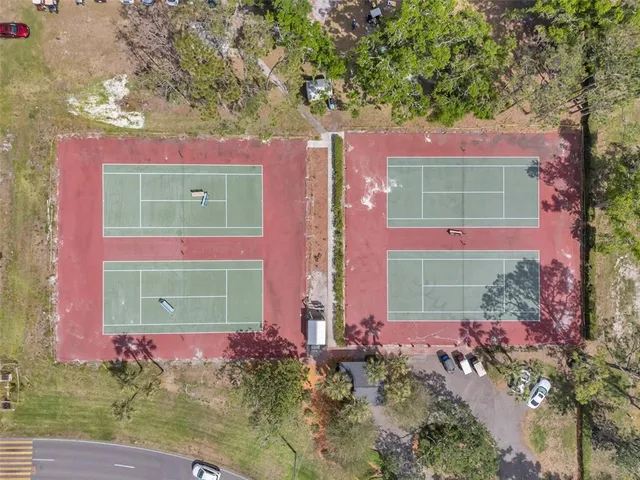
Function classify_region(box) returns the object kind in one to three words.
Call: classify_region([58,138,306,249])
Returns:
tennis court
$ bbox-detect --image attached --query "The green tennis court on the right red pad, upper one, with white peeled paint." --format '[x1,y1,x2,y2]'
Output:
[345,129,582,239]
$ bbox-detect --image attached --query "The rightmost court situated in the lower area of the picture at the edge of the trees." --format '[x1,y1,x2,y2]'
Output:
[345,239,582,345]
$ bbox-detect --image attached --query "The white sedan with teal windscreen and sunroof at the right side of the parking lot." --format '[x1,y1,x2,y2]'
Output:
[527,379,553,411]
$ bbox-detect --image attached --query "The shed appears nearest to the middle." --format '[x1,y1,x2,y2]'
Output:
[308,318,326,345]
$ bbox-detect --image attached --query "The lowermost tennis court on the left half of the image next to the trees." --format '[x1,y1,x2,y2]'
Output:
[58,249,306,361]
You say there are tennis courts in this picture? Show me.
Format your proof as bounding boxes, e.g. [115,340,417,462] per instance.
[345,129,582,239]
[58,249,306,361]
[345,239,582,345]
[58,138,306,249]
